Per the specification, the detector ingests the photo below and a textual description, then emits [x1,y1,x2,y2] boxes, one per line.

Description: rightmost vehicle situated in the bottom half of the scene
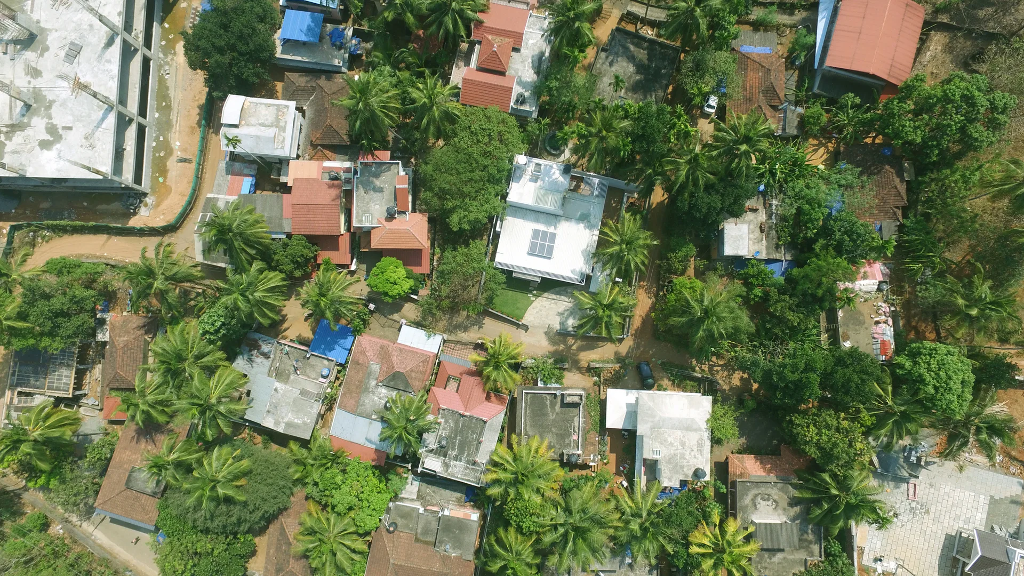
[637,359,658,388]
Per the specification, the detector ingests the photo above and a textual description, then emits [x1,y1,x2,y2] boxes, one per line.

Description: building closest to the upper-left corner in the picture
[0,0,166,195]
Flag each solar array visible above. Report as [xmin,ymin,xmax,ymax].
[529,229,556,258]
